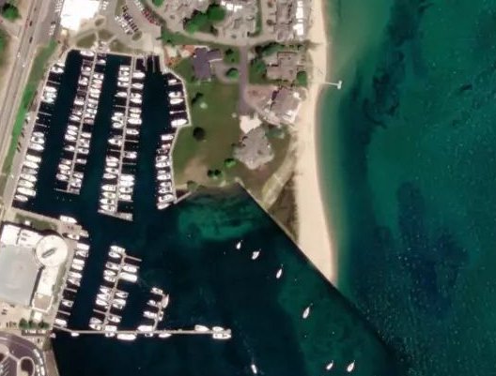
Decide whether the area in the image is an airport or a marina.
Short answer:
marina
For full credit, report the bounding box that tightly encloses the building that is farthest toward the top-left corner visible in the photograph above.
[60,0,99,31]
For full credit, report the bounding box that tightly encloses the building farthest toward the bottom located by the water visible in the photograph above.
[0,223,67,310]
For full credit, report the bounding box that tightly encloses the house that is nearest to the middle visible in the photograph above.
[234,125,273,168]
